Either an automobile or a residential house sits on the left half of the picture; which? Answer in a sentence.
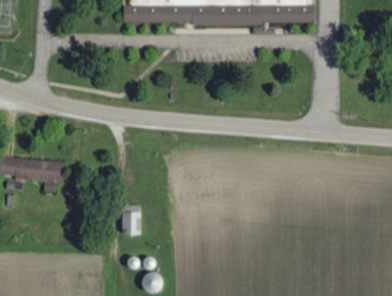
Looking on the left half of the picture, you will find a residential house.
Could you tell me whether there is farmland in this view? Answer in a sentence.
Yes, the picture does contain farmland.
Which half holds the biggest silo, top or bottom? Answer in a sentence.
The bottom half of the photo is where the biggest silo is.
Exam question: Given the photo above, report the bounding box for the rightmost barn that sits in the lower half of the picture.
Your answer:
[122,201,142,238]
